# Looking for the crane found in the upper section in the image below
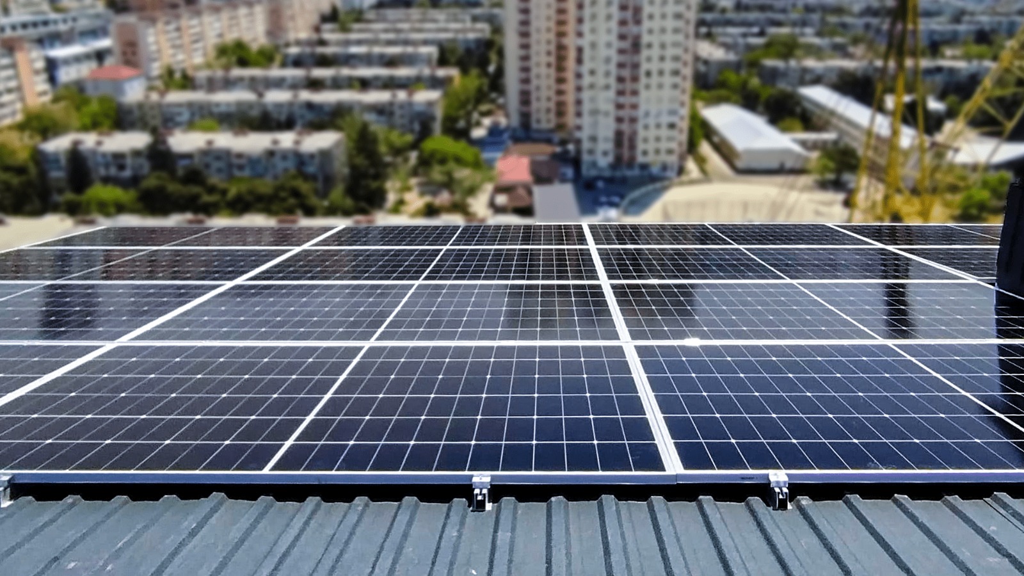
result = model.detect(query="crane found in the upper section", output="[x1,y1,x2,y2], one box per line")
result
[850,0,1024,224]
